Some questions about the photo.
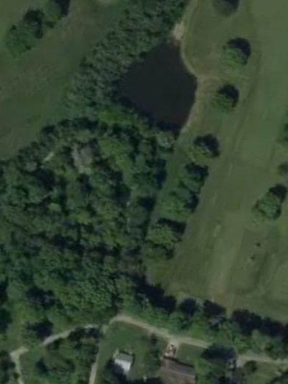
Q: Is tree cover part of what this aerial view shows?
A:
Yes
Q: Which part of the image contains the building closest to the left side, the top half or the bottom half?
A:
bottom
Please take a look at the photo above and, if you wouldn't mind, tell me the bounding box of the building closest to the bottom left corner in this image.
[112,353,133,374]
